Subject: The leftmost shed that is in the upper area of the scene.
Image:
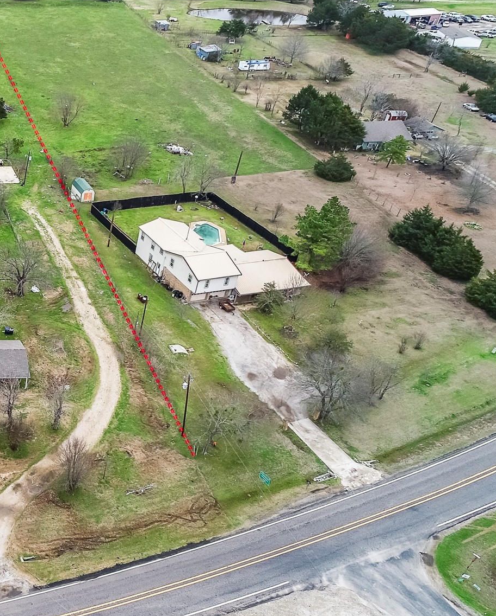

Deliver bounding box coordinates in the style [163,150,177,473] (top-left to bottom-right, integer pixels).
[72,177,97,201]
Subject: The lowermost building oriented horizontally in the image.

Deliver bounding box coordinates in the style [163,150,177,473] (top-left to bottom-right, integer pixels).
[136,218,308,304]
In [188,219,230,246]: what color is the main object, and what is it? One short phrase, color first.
white swimming pool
